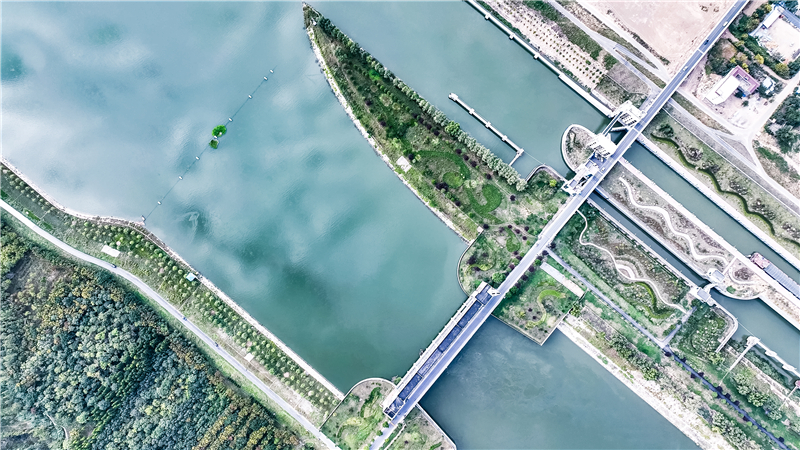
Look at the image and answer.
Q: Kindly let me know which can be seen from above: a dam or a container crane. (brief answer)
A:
dam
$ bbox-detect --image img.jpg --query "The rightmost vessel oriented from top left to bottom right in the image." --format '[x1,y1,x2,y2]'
[753,252,800,297]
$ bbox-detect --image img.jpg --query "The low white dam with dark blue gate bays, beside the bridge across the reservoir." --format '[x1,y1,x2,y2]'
[380,284,493,420]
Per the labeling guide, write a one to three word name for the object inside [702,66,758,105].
building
